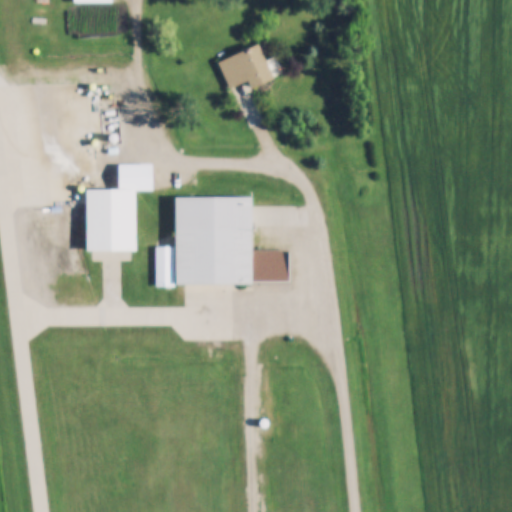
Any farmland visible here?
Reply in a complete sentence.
Yes, the picture does contain farmland.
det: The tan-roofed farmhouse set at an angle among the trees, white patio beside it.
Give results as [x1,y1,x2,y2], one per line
[220,44,282,92]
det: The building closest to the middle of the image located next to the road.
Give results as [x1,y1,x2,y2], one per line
[174,196,252,286]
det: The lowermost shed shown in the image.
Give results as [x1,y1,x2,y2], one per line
[154,246,174,288]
